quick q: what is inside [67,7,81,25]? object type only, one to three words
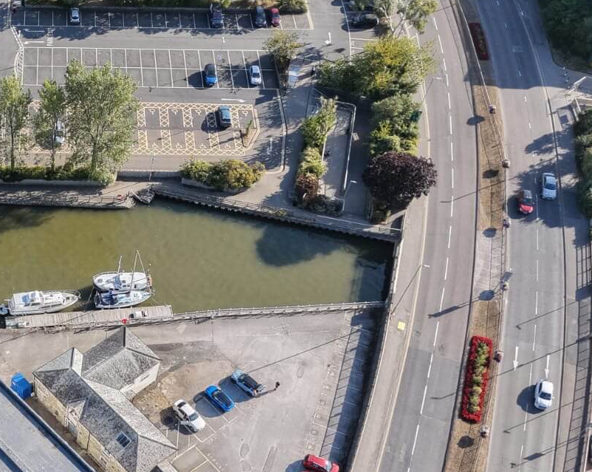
vehicle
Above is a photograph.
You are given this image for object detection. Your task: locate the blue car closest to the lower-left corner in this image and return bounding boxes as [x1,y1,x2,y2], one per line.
[202,382,238,417]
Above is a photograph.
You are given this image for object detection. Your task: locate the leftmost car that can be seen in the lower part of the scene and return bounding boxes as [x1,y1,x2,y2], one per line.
[168,397,208,434]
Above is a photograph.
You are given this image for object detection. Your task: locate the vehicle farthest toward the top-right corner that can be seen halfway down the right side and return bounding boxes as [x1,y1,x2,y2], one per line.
[538,172,559,200]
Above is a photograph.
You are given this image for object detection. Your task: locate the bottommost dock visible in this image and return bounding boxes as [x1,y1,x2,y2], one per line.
[5,299,174,329]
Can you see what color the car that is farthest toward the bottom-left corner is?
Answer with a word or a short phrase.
white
